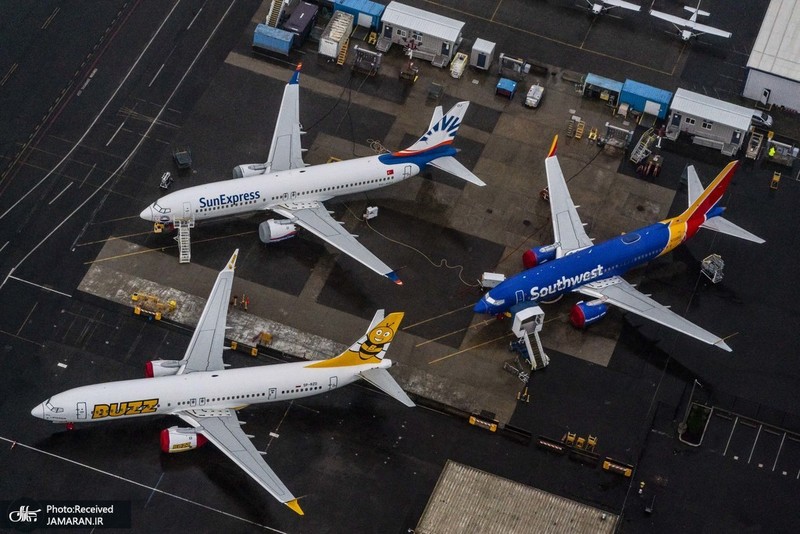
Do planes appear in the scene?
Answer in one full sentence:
Yes, there's a plane down there.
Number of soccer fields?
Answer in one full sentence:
The photo contains no soccer fields.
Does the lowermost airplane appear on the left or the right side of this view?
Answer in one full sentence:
It is on the left.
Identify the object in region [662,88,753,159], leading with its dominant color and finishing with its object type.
white trailer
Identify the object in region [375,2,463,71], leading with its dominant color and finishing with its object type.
white trailer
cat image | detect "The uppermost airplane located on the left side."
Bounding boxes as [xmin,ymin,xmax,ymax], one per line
[141,65,486,287]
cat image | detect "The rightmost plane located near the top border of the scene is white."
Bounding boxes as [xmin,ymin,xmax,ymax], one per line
[649,0,733,47]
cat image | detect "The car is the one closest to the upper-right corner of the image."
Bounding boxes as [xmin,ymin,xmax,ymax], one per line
[746,107,777,130]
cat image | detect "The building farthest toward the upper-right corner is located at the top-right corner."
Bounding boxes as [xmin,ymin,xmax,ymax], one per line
[735,0,800,107]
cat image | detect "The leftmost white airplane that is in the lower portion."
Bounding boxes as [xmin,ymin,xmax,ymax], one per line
[32,251,415,516]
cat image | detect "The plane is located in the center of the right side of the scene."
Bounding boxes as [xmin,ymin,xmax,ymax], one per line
[473,136,765,353]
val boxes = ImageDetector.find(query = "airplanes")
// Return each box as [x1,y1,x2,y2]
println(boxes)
[587,0,642,20]
[141,65,486,287]
[649,0,733,47]
[32,251,415,516]
[473,136,765,353]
